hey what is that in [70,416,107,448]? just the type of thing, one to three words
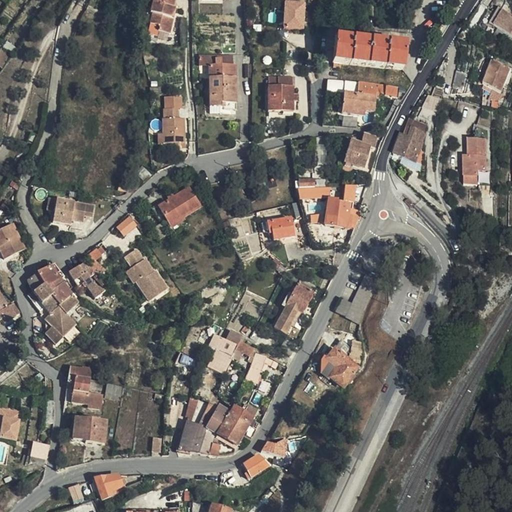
house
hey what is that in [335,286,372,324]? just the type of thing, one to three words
building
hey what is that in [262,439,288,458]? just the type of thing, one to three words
house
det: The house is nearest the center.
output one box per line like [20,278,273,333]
[268,216,296,244]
